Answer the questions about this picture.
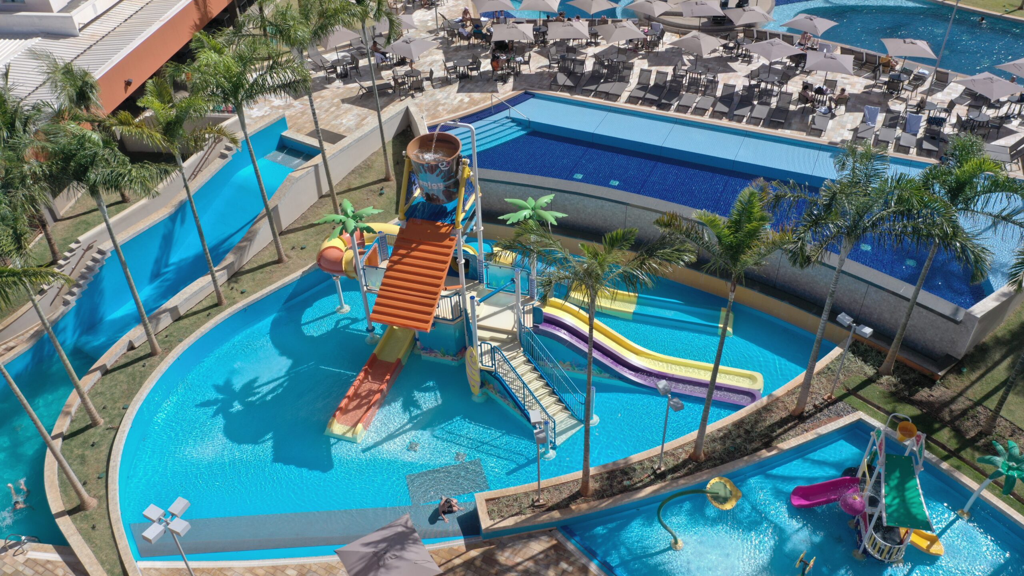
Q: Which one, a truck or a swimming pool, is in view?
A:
swimming pool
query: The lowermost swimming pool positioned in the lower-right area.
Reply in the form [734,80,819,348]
[557,429,1024,576]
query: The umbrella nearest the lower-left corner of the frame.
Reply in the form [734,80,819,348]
[328,511,463,576]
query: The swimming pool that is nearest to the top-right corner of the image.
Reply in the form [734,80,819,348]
[771,0,1024,85]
